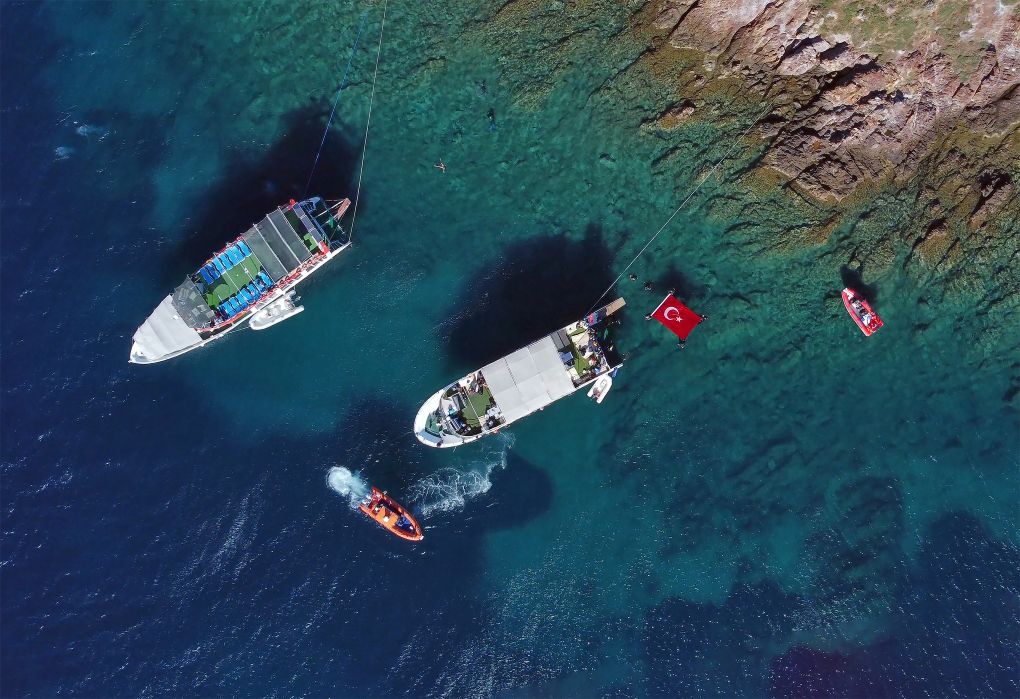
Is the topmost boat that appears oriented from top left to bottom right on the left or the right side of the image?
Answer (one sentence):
It is on the right.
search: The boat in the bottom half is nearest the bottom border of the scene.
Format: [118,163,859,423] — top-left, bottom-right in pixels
[360,488,422,542]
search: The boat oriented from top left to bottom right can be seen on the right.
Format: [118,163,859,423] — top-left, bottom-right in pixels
[843,288,883,336]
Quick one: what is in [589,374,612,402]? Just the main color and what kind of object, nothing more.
white boat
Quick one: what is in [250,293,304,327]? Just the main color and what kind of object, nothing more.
white boat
